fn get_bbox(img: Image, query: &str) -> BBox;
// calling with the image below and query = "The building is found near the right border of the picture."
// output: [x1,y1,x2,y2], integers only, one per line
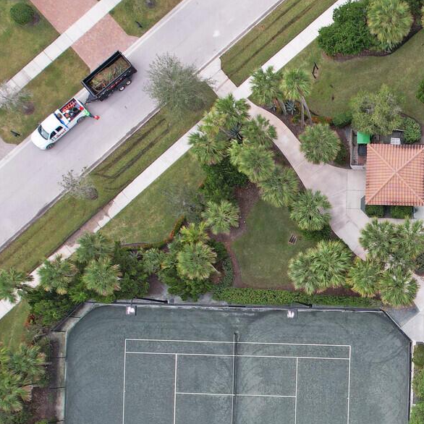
[363,142,424,208]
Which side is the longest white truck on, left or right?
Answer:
left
